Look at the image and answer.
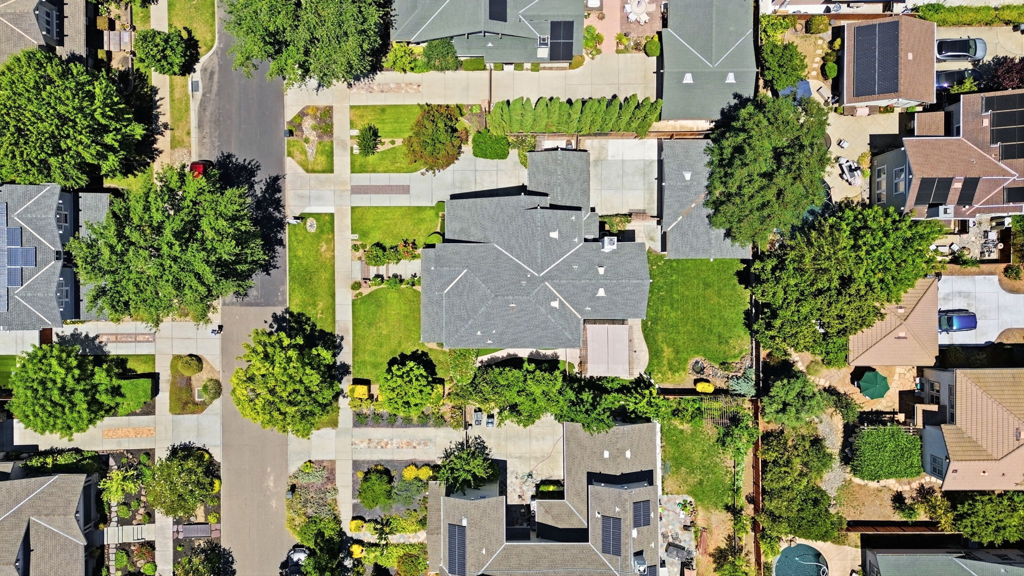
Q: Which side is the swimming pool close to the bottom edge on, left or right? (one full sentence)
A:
The swimming pool close to the bottom edge is on the right side of the image.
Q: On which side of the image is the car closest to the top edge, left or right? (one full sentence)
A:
The car closest to the top edge is on the right side of the image.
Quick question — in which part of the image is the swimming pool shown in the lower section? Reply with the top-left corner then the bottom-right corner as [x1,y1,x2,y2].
[773,544,829,576]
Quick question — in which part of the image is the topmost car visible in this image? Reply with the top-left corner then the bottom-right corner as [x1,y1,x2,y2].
[937,38,986,64]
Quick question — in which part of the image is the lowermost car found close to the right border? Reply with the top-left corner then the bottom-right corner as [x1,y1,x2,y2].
[938,308,983,333]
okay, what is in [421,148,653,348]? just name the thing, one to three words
house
